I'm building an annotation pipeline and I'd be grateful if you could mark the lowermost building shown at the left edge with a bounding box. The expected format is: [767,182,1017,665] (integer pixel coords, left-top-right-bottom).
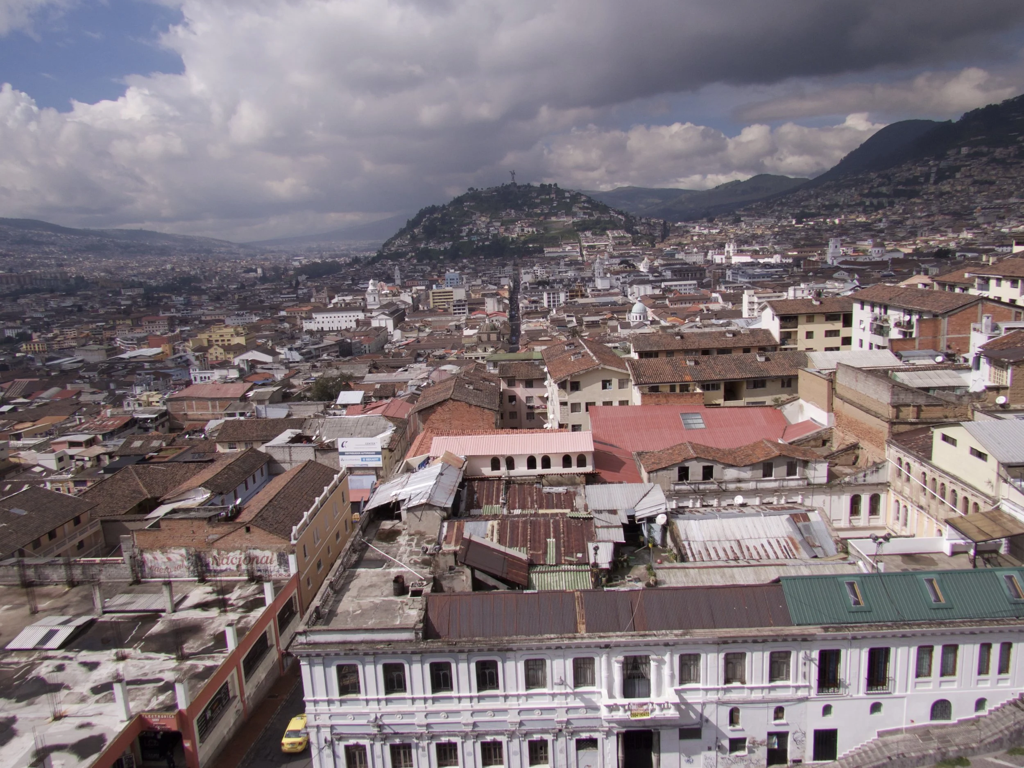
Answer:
[0,571,302,768]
